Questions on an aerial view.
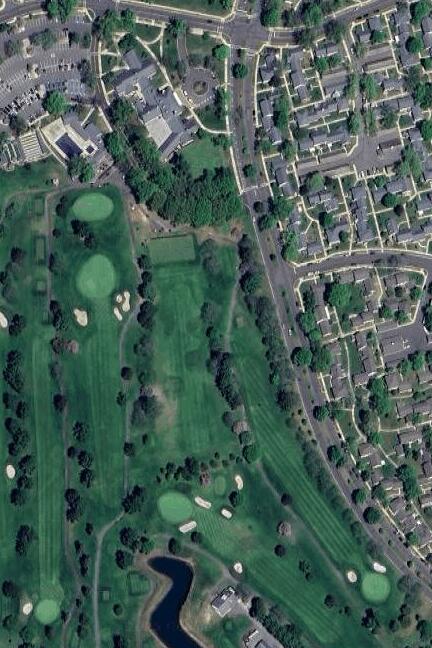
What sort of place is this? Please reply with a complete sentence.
This looks like a golf course.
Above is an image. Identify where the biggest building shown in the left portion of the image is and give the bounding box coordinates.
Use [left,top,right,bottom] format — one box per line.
[116,49,200,161]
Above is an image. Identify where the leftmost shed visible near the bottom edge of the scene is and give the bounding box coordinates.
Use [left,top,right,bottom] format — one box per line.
[212,588,235,617]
